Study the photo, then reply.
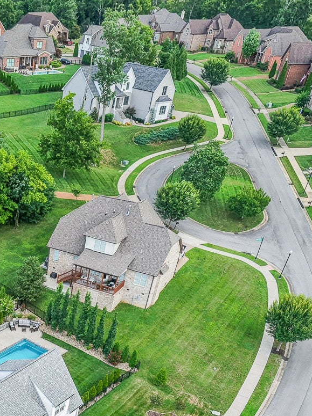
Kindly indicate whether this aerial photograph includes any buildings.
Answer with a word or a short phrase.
Yes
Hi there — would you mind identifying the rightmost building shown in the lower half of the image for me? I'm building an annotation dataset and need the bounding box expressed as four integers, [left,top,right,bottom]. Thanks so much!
[46,196,181,311]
